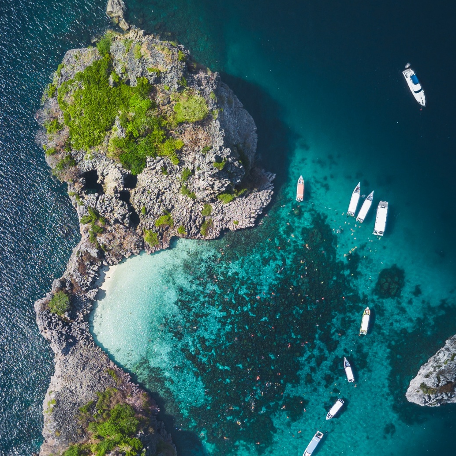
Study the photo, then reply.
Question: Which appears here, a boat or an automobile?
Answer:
boat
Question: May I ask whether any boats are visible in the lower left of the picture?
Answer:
No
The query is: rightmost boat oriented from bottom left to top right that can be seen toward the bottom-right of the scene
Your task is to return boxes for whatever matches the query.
[327,398,344,420]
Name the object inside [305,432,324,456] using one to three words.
boat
